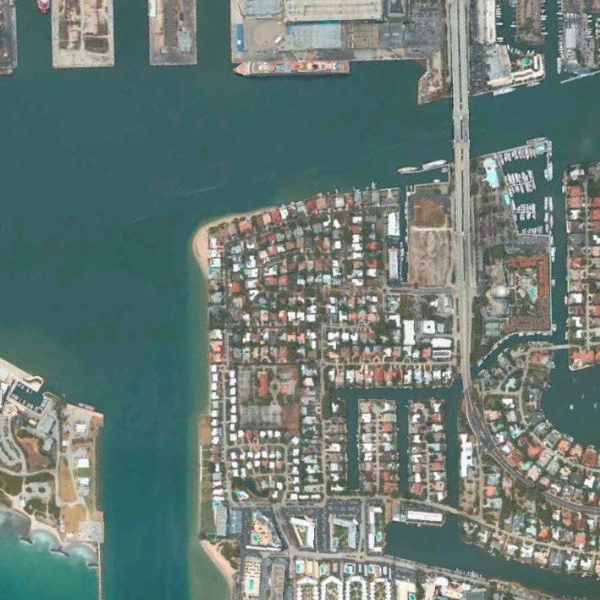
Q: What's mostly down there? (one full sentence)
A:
For the most part, this view shows water.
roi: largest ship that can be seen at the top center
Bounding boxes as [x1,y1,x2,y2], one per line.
[235,60,350,75]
